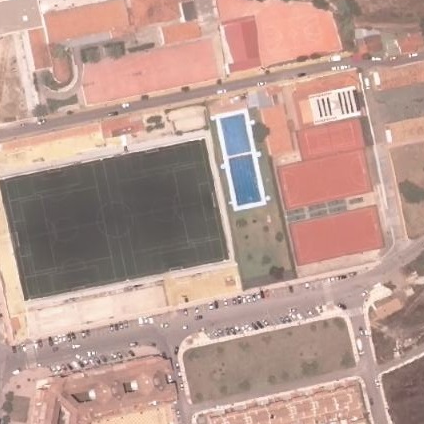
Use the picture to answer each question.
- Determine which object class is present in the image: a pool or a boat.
pool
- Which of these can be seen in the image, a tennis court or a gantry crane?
tennis court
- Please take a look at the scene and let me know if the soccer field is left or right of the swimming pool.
left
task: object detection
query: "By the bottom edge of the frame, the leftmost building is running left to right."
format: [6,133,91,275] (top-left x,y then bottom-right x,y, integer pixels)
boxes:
[27,354,180,424]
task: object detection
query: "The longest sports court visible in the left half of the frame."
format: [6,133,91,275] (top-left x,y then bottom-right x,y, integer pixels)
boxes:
[83,37,219,104]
